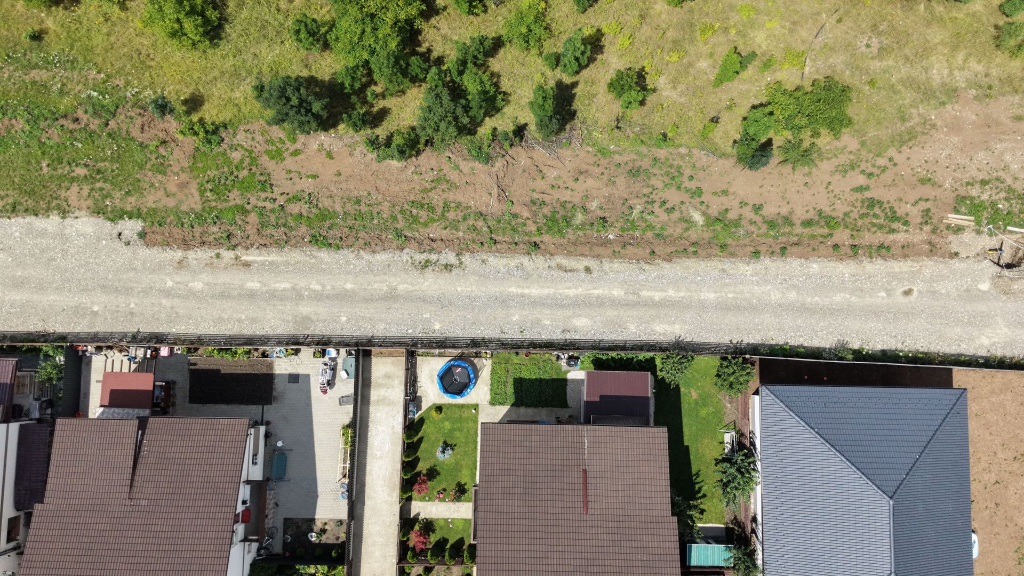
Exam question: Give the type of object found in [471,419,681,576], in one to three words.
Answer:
house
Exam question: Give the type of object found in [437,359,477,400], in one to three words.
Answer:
trampoline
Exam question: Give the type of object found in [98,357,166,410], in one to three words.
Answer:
shed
